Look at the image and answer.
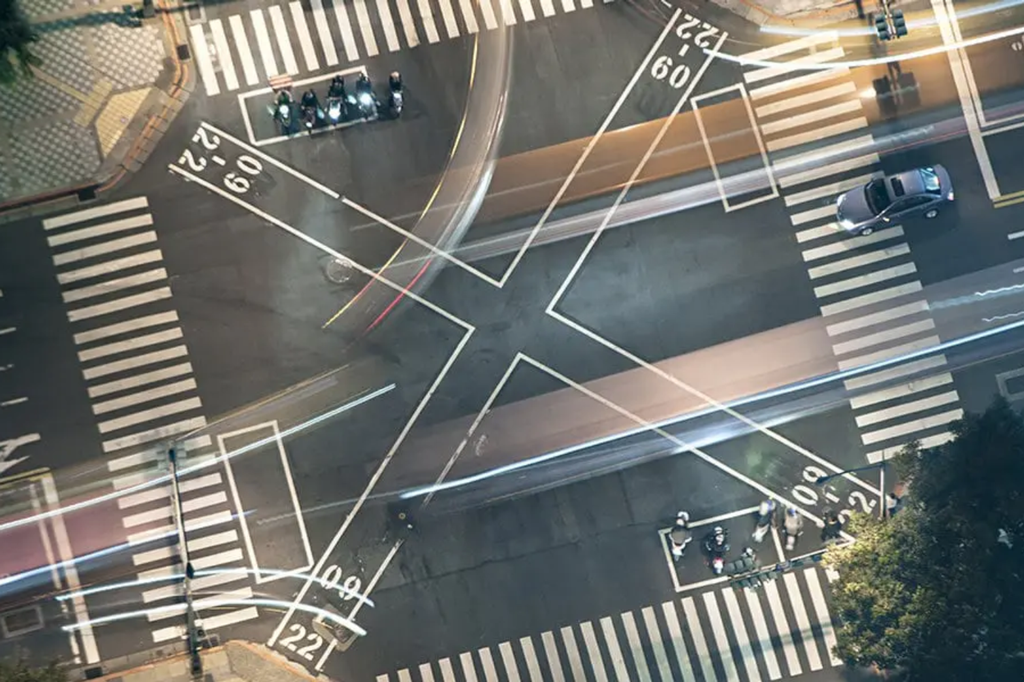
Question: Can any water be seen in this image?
No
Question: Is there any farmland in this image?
No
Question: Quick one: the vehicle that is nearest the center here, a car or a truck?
car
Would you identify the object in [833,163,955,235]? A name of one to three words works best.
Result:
car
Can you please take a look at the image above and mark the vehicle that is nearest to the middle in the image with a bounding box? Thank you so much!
[453,157,574,228]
